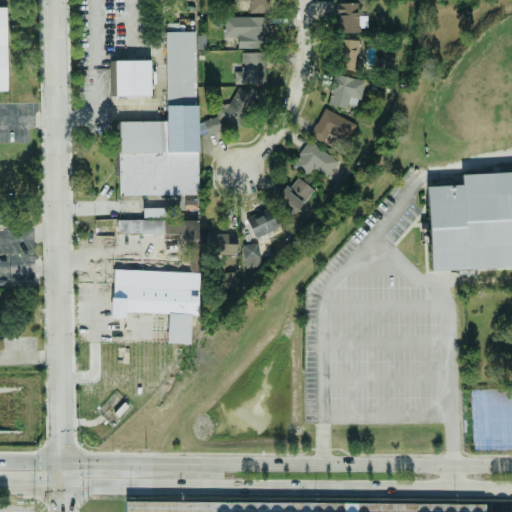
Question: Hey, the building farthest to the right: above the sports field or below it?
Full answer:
From this view, the building farthest to the right can be seen below the sports field.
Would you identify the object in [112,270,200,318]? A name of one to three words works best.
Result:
building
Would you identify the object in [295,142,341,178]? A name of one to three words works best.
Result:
house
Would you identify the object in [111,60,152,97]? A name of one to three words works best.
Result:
building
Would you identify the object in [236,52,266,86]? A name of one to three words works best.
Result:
house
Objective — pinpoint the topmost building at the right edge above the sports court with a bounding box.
[422,172,512,271]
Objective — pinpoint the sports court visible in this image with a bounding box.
[472,390,512,451]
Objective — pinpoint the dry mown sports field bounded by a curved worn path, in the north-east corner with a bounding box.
[441,16,512,145]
